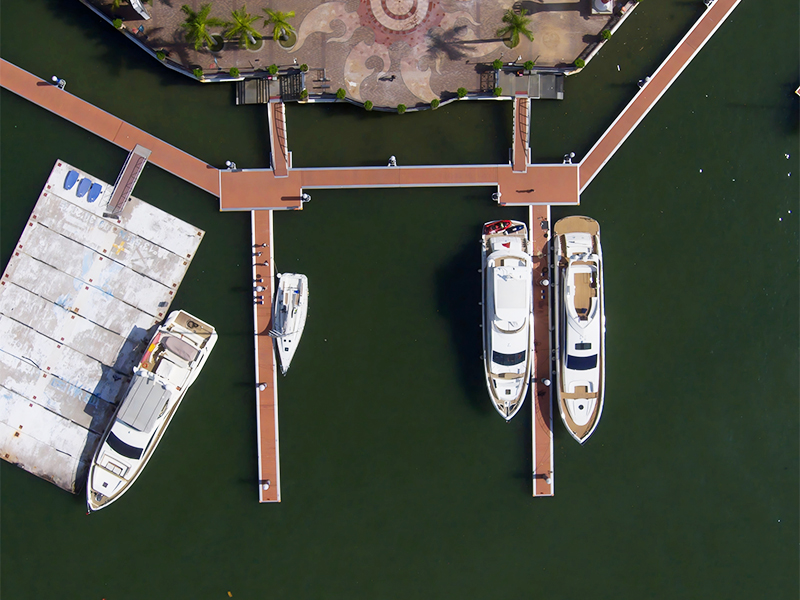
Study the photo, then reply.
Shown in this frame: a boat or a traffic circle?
boat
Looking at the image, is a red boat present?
Yes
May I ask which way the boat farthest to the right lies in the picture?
from top to bottom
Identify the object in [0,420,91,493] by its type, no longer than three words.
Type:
pier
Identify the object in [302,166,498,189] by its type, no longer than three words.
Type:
pier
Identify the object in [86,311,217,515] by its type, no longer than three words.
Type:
boat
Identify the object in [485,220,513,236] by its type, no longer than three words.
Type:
boat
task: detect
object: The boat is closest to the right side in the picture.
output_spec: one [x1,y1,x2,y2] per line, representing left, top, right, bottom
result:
[553,216,606,444]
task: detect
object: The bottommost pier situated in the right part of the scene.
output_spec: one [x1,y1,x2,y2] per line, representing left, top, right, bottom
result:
[529,205,555,497]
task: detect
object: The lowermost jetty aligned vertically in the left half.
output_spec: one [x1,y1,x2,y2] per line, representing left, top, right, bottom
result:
[252,211,281,503]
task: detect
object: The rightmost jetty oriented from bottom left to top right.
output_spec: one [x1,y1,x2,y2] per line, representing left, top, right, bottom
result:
[579,0,741,195]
